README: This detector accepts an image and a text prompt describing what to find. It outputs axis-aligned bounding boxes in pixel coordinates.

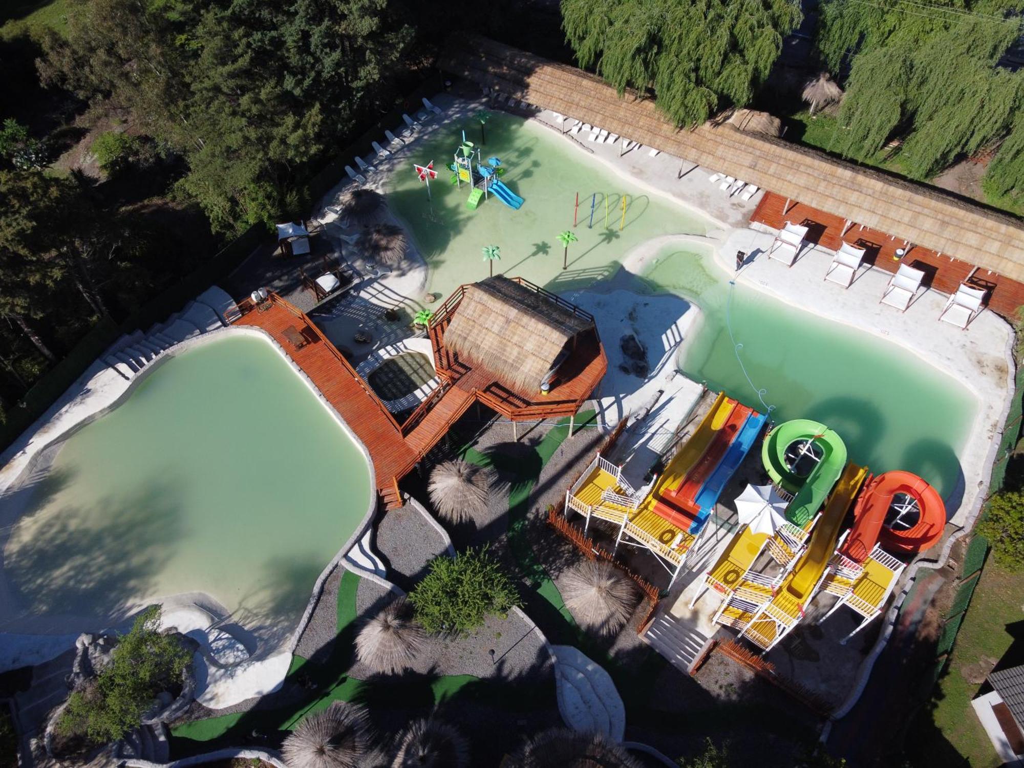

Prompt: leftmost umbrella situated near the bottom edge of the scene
[282,701,381,768]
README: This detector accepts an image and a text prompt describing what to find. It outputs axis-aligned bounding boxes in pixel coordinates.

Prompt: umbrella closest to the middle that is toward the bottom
[425,457,500,520]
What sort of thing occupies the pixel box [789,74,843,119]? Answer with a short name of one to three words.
umbrella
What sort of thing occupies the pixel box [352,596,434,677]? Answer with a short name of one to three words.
umbrella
